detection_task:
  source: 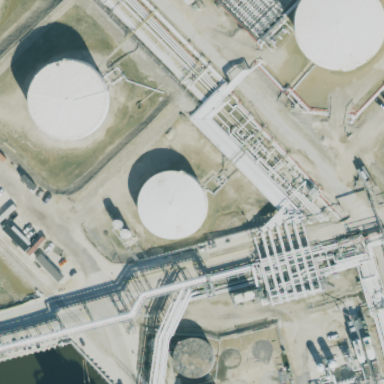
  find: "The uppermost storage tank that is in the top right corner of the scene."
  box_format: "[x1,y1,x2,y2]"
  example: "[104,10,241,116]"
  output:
[292,0,384,74]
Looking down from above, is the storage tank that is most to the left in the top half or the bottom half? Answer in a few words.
top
